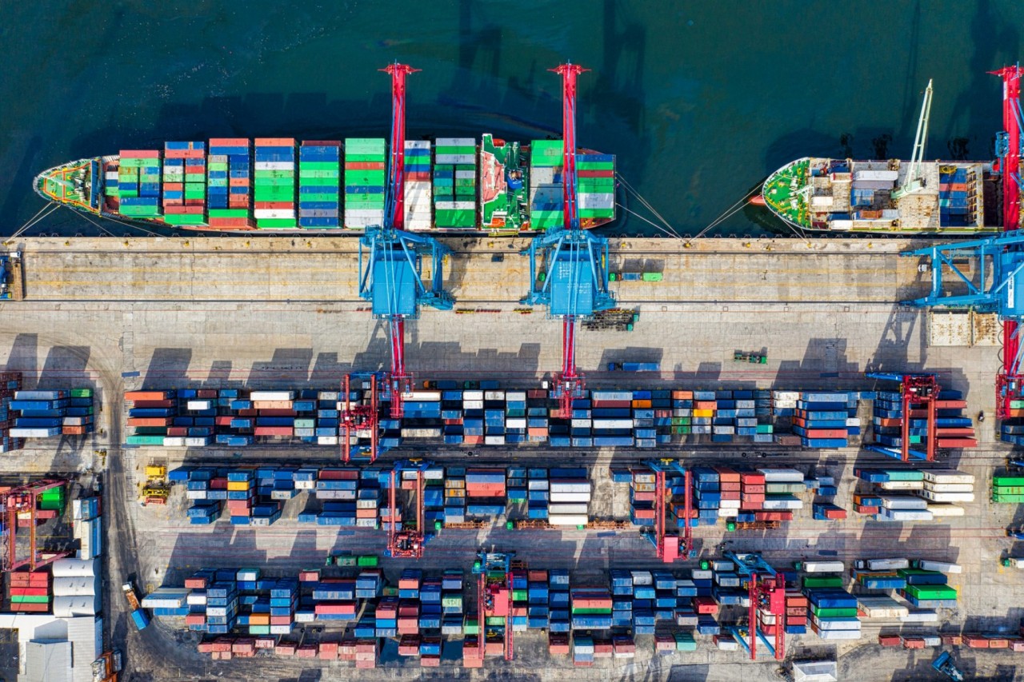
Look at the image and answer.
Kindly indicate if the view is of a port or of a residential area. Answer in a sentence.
This looks like a port.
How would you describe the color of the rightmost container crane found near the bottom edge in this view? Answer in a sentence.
The rightmost container crane found near the bottom edge is red.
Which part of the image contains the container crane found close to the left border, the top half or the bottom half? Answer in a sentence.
It is in the bottom half that the container crane found close to the left border appears.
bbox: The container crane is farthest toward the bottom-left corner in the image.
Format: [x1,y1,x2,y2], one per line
[1,477,78,573]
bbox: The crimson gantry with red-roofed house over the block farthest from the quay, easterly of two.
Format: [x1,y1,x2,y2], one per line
[726,556,786,659]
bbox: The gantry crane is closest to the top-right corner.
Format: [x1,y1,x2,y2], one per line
[900,55,1024,417]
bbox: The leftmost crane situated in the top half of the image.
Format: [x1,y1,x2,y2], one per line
[355,55,459,415]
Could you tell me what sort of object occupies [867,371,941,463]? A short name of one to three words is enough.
container crane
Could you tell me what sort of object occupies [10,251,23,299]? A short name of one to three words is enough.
vehicle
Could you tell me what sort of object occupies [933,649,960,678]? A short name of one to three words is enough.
truck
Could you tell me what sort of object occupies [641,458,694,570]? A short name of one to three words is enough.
container crane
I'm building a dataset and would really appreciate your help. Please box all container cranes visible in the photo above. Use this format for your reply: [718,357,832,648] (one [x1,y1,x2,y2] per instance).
[1,477,78,573]
[513,55,615,415]
[340,369,393,463]
[387,460,435,561]
[726,556,786,659]
[900,55,1024,417]
[474,553,516,660]
[355,55,459,415]
[867,371,941,463]
[641,458,694,570]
